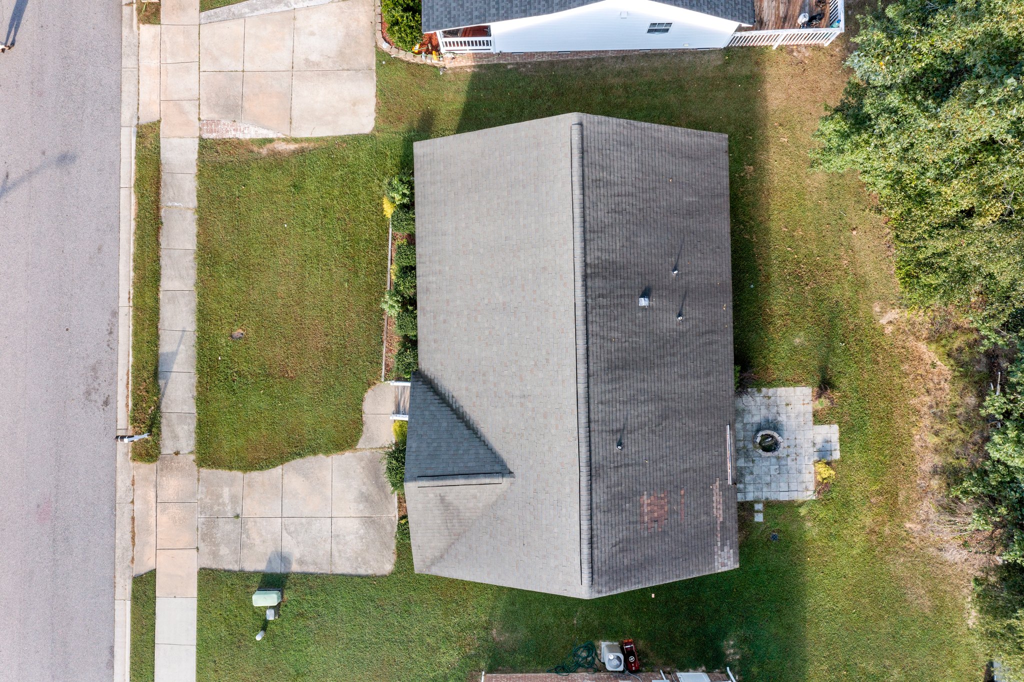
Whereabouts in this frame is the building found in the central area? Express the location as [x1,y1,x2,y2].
[405,112,739,600]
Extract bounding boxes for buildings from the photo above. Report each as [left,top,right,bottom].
[422,0,755,67]
[405,112,739,600]
[484,664,737,682]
